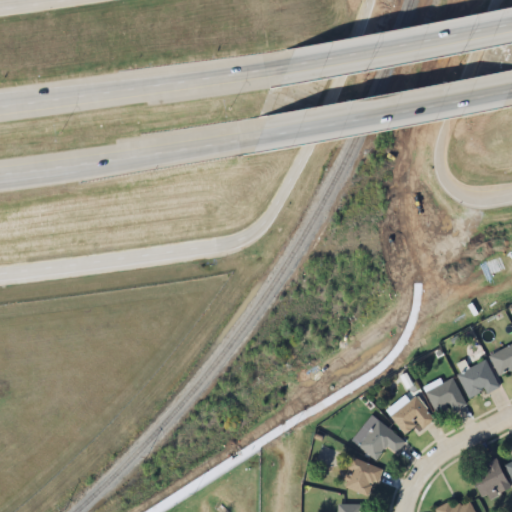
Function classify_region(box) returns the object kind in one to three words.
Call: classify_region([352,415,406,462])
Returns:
house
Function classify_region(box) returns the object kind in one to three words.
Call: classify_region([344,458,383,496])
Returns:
house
